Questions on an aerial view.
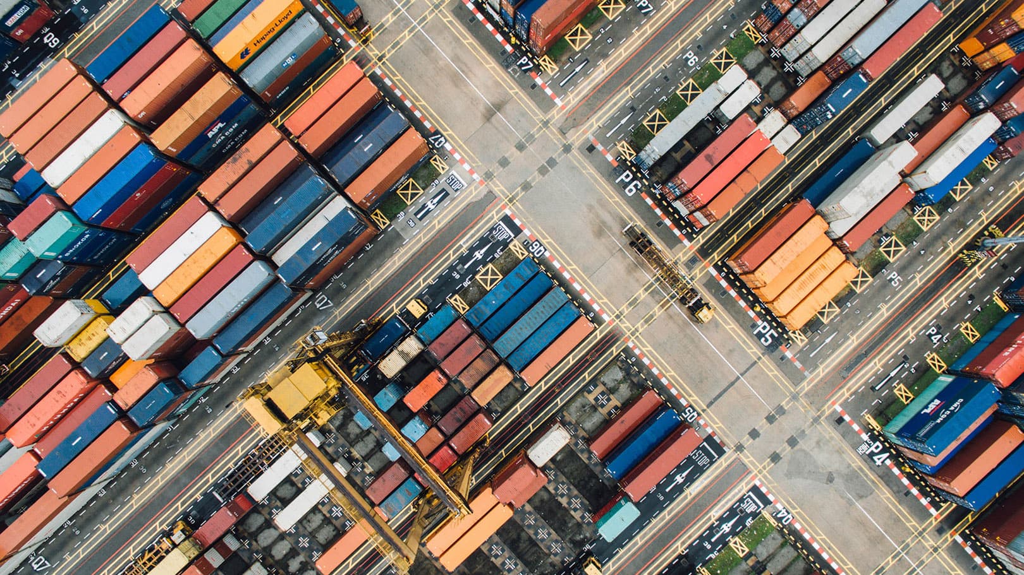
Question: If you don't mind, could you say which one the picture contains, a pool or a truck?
truck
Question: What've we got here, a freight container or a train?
freight container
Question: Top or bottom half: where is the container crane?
bottom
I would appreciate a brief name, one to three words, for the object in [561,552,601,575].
truck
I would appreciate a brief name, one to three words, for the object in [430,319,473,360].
shipping container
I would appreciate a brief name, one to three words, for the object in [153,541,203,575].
shipping container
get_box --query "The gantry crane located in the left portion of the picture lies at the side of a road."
[233,309,490,575]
